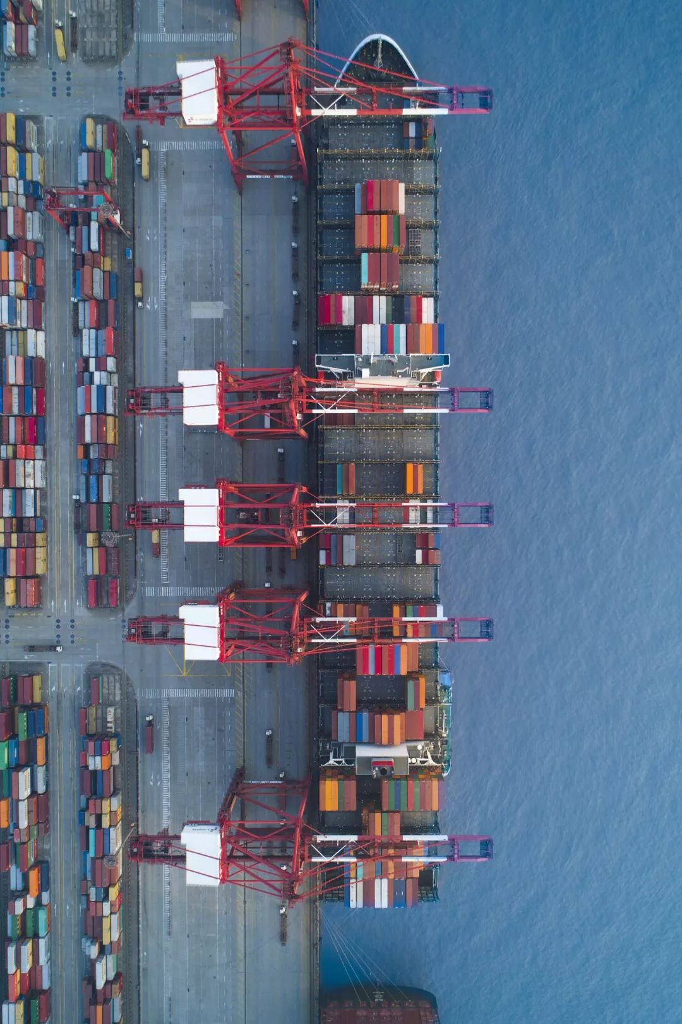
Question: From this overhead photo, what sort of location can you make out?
port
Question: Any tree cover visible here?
No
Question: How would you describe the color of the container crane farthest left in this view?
red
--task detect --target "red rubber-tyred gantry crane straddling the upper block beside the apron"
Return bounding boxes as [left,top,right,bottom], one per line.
[46,189,125,239]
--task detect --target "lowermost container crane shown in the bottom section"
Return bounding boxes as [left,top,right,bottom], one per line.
[126,764,495,906]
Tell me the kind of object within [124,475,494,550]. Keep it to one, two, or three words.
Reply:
container crane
